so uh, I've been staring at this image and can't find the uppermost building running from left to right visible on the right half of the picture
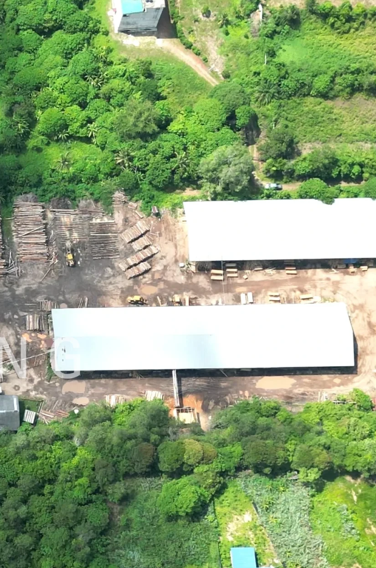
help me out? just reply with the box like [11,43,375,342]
[179,198,376,273]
